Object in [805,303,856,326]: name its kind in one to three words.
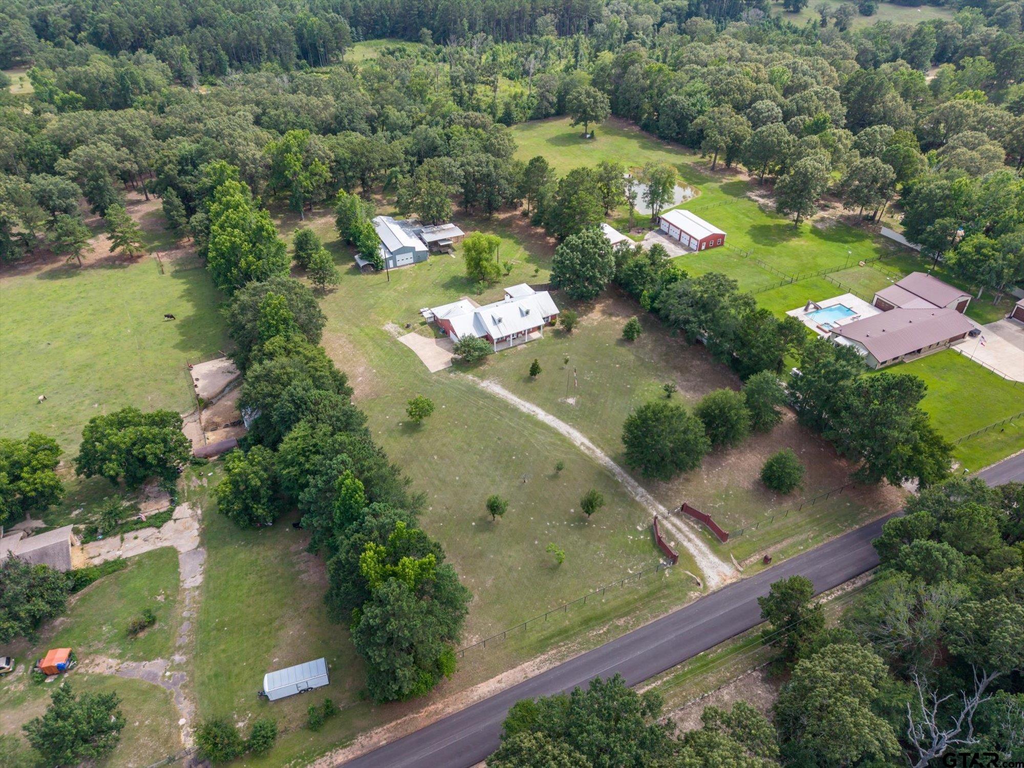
swimming pool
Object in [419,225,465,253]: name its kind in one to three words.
shed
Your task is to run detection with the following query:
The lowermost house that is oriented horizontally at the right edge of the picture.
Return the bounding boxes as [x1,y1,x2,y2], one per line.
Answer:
[826,307,975,368]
